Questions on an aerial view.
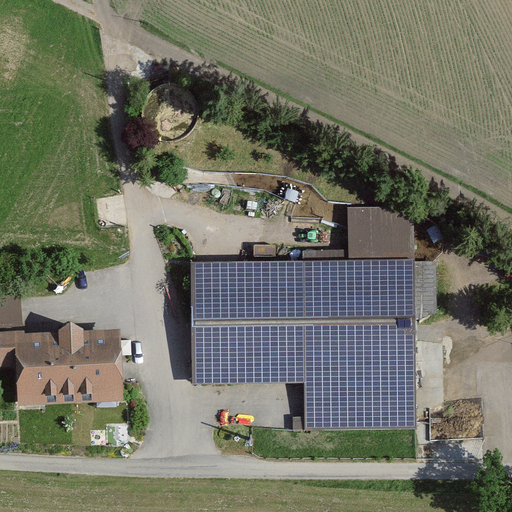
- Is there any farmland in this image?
Yes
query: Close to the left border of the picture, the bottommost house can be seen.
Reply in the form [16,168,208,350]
[0,322,124,410]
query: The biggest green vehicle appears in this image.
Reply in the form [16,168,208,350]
[294,230,327,242]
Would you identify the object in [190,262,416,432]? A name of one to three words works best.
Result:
barn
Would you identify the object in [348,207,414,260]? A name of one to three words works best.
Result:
shed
